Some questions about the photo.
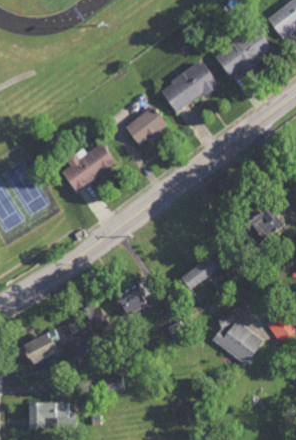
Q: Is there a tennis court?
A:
Yes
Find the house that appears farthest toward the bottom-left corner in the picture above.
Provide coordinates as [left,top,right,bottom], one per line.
[28,402,74,431]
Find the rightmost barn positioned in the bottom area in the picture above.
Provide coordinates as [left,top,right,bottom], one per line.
[268,322,296,344]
